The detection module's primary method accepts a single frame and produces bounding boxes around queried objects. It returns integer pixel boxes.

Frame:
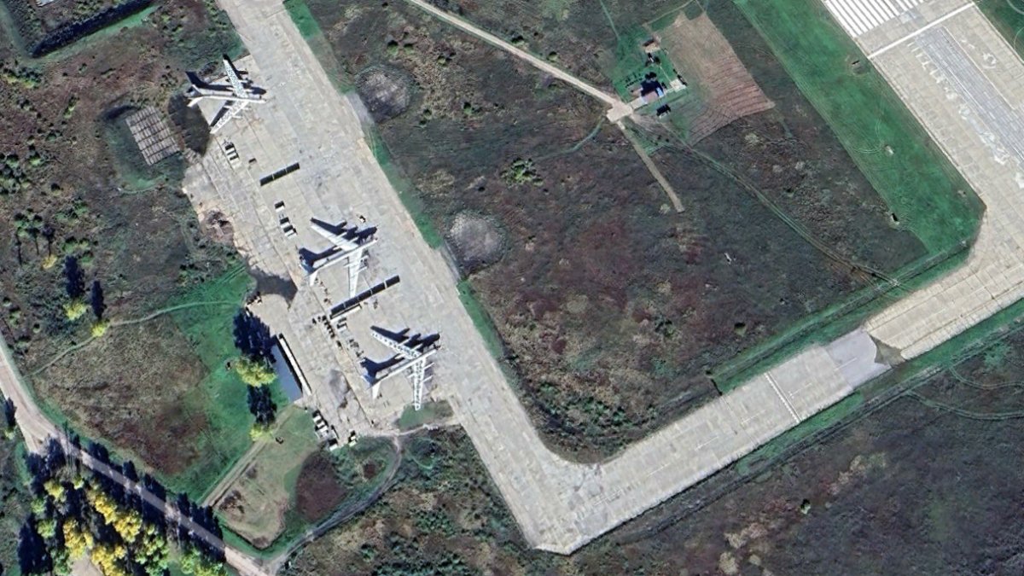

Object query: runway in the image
[826,0,1024,222]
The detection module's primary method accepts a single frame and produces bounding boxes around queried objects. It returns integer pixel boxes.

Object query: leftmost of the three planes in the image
[184,58,267,136]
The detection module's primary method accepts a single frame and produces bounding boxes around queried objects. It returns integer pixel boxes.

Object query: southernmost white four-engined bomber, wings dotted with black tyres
[360,337,439,409]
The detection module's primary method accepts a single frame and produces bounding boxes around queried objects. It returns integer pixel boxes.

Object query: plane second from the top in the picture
[300,224,377,298]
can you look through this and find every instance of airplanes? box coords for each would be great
[184,58,267,136]
[300,224,377,298]
[360,337,439,409]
